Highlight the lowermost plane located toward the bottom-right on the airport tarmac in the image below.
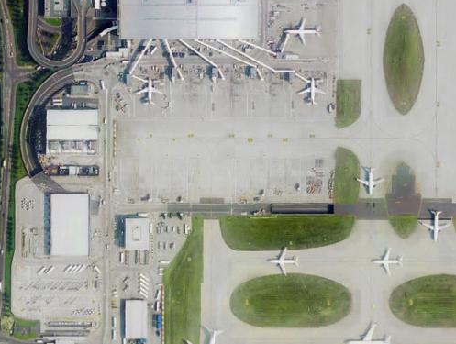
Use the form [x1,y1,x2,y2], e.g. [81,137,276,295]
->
[345,323,390,344]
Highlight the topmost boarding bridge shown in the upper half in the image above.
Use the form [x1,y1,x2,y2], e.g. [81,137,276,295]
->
[238,33,290,57]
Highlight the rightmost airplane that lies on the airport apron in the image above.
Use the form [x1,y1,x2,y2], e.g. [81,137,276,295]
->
[422,212,450,242]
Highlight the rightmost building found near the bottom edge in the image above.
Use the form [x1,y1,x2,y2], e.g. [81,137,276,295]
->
[125,301,147,340]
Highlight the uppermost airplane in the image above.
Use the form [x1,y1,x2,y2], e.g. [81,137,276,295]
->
[285,17,322,46]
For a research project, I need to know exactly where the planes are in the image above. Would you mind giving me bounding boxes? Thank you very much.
[422,212,450,242]
[372,248,402,275]
[285,17,322,46]
[208,331,219,344]
[358,167,384,195]
[268,248,298,275]
[299,78,326,105]
[138,78,164,105]
[345,323,390,344]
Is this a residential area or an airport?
airport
